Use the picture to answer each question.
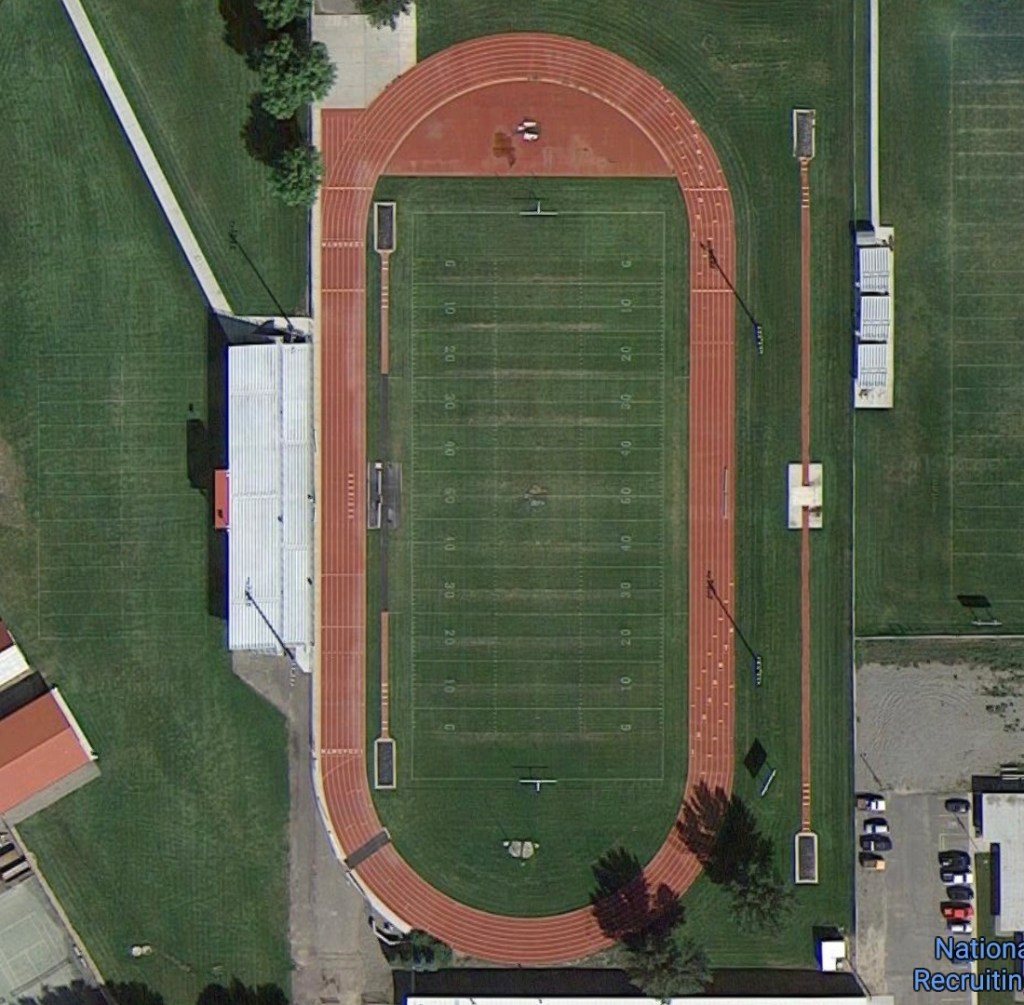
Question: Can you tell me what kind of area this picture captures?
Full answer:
The picture captures a sports ground.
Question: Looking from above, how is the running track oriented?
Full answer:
What the image shows is the running track lying up and down.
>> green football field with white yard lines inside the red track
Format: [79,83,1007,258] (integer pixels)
[366,178,690,916]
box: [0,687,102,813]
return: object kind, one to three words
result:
building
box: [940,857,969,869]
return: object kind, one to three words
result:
vehicle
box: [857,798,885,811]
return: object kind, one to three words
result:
vehicle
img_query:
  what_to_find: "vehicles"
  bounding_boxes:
[946,801,969,812]
[943,873,972,884]
[950,956,973,967]
[862,859,886,870]
[949,889,972,900]
[949,923,973,933]
[943,907,972,919]
[940,857,969,869]
[864,823,887,834]
[857,798,885,811]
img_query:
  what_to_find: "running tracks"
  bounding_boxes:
[320,33,735,961]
